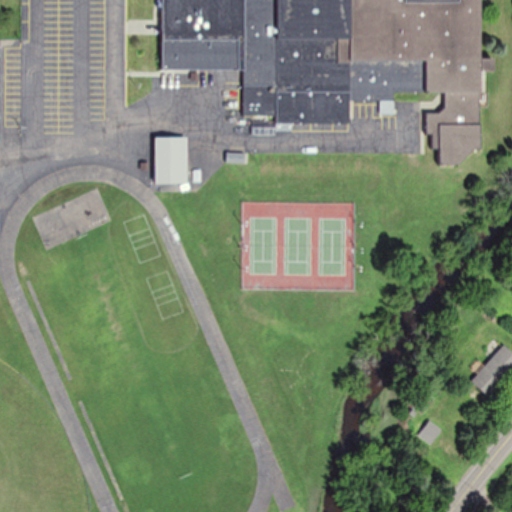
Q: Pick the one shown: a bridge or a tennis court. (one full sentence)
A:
Of the two, only a tennis court appears.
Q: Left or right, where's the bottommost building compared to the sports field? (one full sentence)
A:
Relative to the sports field, the bottommost building lies to the right.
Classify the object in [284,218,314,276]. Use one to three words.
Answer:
tennis court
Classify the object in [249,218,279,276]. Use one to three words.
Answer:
tennis court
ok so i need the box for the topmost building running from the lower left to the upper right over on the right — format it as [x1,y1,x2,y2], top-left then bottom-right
[472,344,512,393]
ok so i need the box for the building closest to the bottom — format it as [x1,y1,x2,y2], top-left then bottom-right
[418,420,442,446]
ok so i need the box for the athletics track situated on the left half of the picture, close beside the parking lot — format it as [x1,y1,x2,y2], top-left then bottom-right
[0,165,296,512]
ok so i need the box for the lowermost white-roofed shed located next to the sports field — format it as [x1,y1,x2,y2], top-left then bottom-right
[153,136,188,185]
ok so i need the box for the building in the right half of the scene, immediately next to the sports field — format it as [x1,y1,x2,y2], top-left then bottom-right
[160,0,495,166]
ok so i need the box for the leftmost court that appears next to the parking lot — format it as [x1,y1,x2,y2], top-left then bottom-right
[33,188,111,250]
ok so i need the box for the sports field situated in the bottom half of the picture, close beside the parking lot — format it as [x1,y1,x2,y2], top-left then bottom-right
[14,182,259,512]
